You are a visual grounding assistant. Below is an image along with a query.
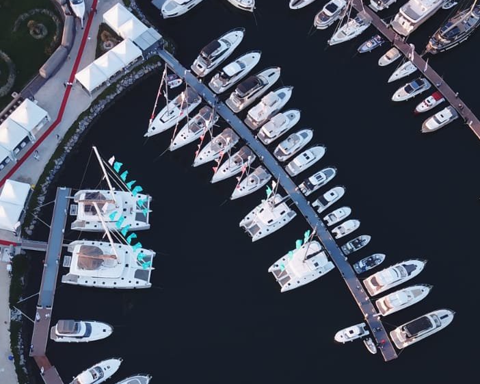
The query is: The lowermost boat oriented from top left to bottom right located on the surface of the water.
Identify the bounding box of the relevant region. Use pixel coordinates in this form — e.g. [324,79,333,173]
[363,337,376,353]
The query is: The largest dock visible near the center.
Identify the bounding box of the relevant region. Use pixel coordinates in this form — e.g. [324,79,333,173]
[183,72,398,363]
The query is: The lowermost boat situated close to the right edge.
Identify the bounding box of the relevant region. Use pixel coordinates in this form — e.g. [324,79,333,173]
[385,309,460,350]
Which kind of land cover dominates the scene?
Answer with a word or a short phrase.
water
